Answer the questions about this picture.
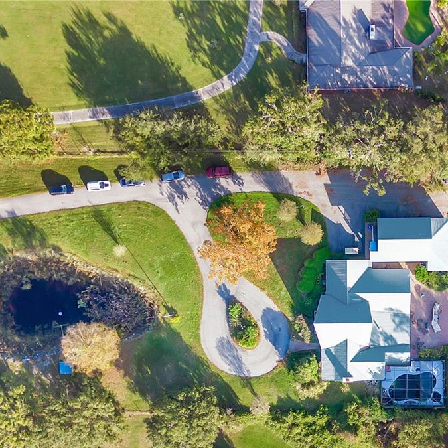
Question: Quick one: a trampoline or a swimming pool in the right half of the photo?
swimming pool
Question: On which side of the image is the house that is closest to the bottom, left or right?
right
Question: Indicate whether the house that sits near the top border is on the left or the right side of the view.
right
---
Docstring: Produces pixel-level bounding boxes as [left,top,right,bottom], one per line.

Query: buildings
[313,259,411,384]
[299,0,414,90]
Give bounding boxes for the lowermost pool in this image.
[388,371,441,403]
